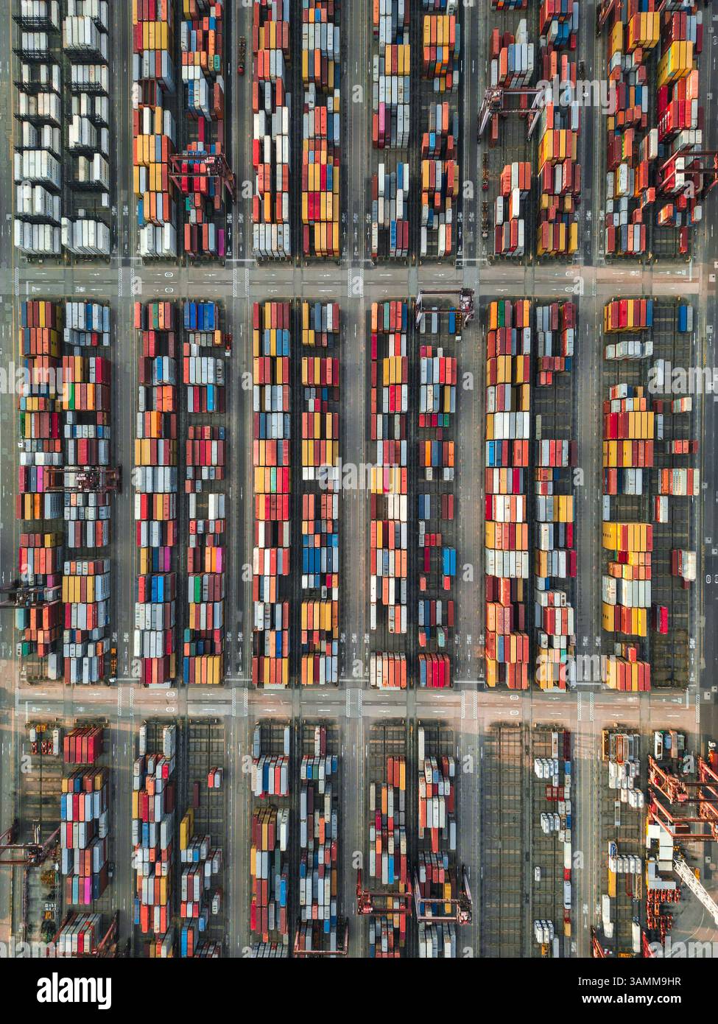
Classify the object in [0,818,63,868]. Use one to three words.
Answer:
container crane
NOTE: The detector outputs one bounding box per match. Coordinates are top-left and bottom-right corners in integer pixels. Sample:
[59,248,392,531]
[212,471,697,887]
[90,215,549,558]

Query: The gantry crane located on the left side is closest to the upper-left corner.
[167,152,237,198]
